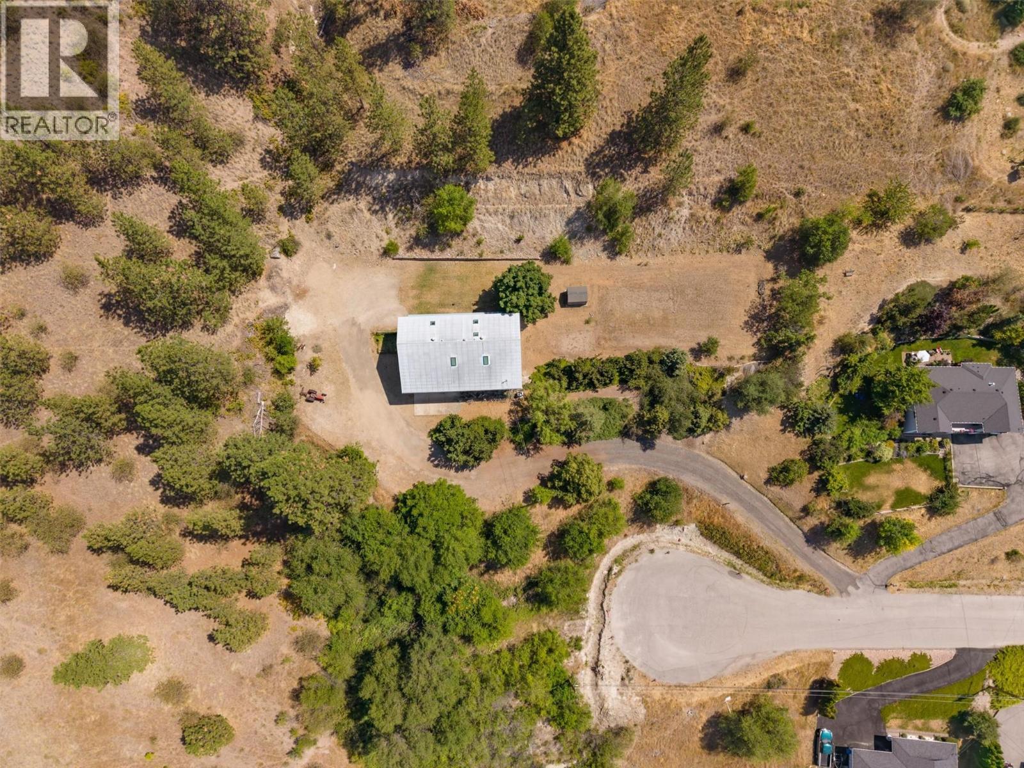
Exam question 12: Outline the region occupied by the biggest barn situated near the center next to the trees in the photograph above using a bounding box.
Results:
[396,311,522,394]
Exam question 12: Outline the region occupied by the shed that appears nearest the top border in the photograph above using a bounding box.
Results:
[565,287,588,310]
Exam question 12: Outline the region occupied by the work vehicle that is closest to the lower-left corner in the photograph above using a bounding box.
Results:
[298,388,325,403]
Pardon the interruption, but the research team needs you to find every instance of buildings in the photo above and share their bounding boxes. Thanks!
[565,287,588,310]
[906,362,1024,433]
[845,732,959,768]
[396,311,522,394]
